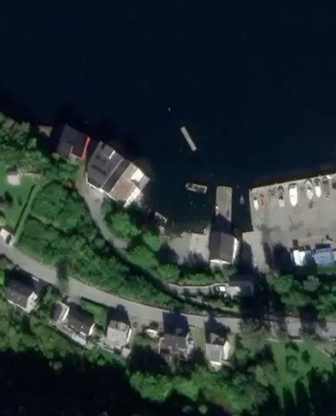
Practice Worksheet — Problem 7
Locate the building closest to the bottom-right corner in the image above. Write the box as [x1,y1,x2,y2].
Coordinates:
[203,336,228,364]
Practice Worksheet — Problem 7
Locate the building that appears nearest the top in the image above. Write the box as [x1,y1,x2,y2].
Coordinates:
[59,124,92,159]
